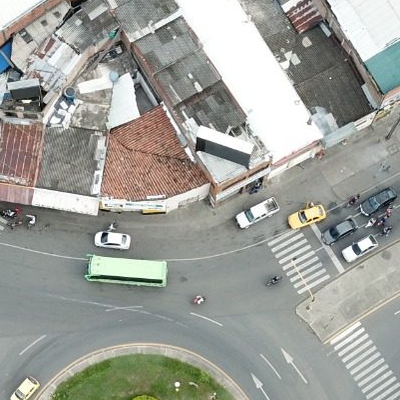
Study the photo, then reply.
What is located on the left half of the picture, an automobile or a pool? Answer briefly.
automobile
